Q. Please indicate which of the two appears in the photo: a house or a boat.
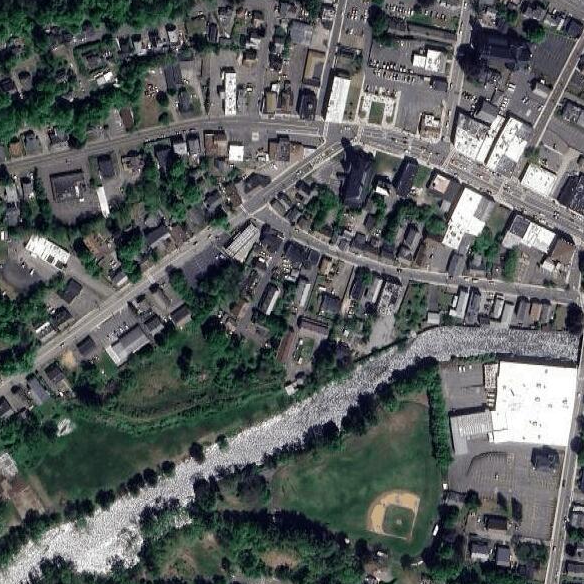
house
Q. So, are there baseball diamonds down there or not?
Yes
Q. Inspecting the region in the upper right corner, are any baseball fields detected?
No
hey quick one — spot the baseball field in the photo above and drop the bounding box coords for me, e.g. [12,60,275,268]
[276,429,440,546]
